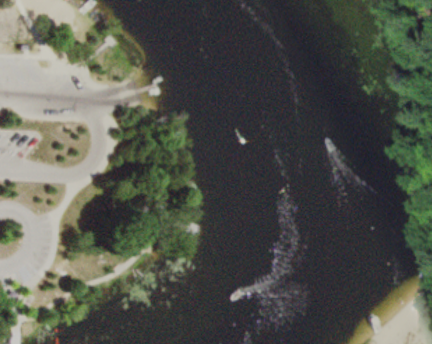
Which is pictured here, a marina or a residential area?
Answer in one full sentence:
The area seen from above is a marina.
